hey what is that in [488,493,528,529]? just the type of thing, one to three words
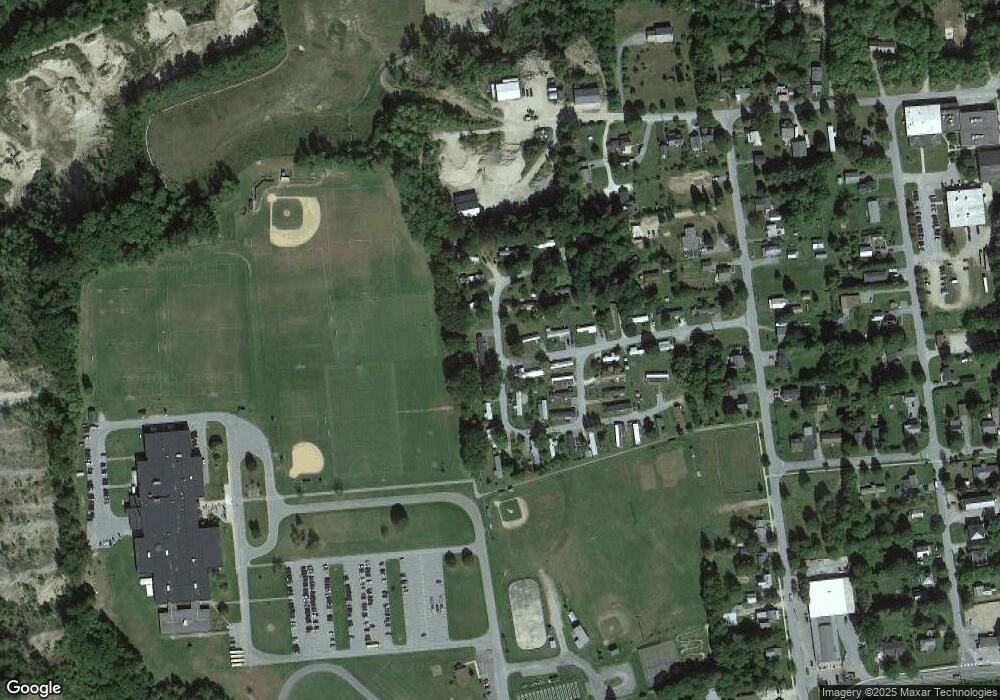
baseball field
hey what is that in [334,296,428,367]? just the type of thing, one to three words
soccer field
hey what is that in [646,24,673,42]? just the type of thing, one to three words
house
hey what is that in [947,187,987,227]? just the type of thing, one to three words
building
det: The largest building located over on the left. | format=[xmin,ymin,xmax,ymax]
[127,430,222,636]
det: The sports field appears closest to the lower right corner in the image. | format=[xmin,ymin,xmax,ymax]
[716,426,769,493]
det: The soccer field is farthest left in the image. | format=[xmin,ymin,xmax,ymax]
[95,288,164,397]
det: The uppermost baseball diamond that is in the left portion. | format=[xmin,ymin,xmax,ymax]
[264,189,320,247]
